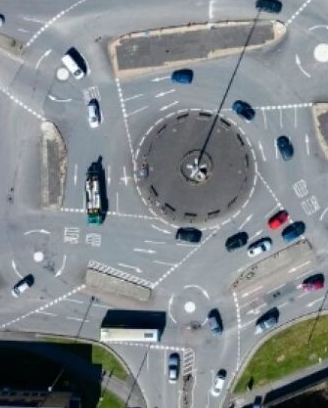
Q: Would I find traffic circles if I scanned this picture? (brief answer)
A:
Yes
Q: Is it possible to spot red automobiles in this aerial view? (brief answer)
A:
Yes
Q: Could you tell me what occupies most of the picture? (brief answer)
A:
paved ground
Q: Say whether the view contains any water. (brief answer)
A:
No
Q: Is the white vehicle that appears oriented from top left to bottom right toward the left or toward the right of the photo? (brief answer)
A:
left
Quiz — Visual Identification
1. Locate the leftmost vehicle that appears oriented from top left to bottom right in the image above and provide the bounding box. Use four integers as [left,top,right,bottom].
[59,51,86,79]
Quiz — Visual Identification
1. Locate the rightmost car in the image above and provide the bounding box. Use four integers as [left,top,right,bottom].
[302,277,325,292]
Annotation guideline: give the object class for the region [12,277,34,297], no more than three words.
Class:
car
